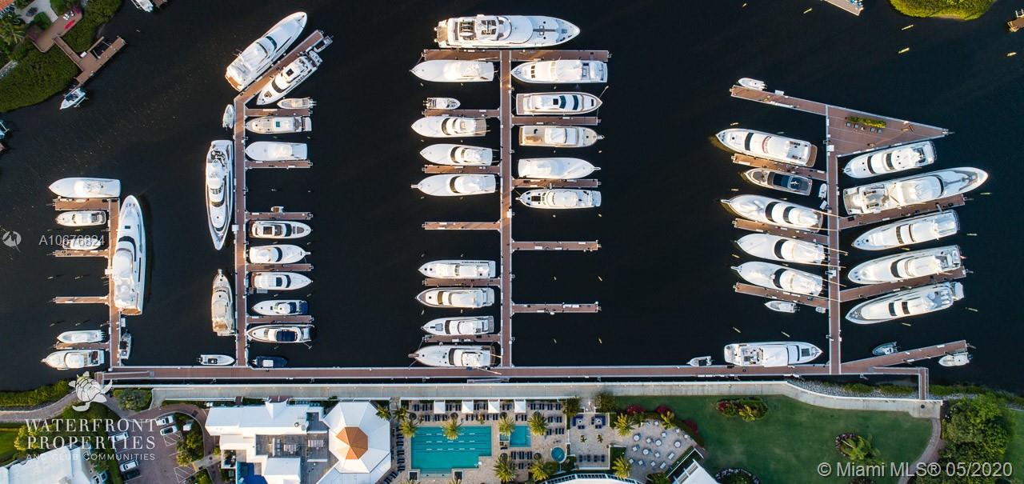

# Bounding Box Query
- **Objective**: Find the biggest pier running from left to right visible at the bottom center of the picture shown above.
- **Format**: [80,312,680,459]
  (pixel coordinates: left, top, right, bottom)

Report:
[110,340,969,378]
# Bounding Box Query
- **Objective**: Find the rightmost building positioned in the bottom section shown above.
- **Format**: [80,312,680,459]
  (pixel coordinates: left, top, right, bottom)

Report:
[667,447,720,484]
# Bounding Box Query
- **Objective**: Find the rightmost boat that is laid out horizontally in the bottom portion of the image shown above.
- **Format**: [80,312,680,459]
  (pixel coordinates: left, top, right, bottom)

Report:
[936,354,971,367]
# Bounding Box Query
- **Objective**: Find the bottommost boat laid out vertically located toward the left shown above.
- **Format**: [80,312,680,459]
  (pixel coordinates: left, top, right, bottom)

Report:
[123,330,135,359]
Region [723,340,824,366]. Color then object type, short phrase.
white boat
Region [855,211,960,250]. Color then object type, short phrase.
white boat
